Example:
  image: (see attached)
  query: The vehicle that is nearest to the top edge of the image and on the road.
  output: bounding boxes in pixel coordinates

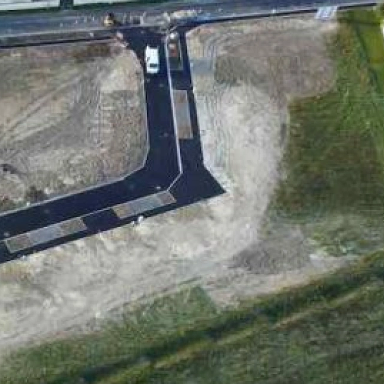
[104,7,119,27]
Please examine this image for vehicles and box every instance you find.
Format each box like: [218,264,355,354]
[104,7,119,27]
[146,47,162,72]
